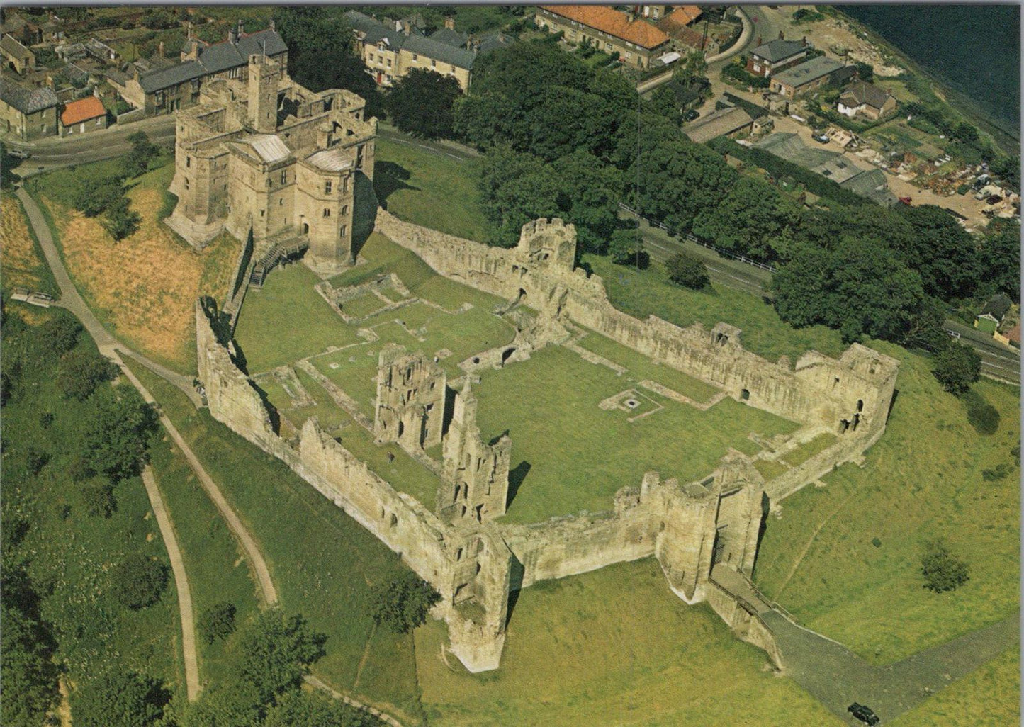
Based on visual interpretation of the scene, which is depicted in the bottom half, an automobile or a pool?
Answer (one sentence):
What appears in the bottom half is an automobile.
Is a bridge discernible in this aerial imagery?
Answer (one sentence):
Yes, a bridge can be made out from above.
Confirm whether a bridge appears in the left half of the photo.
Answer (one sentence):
No, the scene shows no bridge in the left half of the photo.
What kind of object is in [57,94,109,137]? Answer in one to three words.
house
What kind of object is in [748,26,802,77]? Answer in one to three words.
house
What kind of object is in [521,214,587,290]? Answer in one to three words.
building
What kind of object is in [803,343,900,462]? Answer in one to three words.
building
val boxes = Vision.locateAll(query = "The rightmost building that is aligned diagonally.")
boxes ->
[975,287,1020,334]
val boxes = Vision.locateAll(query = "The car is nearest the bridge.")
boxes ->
[846,697,883,726]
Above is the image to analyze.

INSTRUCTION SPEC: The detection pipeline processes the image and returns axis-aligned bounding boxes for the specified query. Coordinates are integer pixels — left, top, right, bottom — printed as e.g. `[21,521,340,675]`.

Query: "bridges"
[705,559,856,669]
